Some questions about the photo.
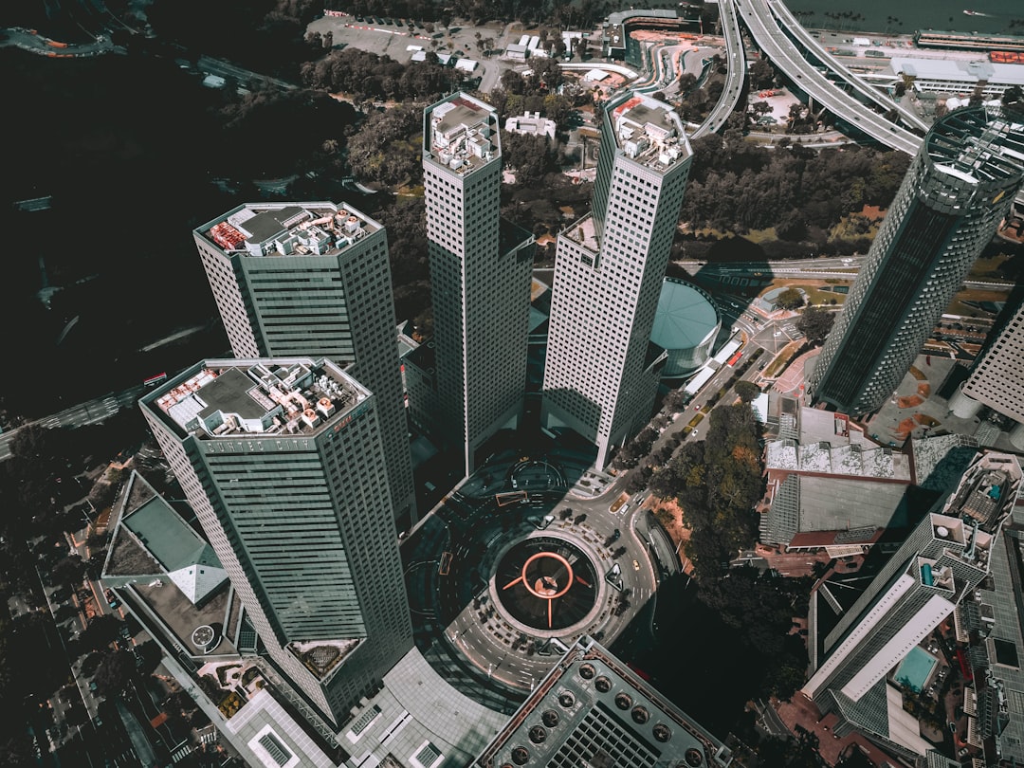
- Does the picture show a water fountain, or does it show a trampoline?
water fountain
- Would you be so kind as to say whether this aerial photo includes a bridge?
Yes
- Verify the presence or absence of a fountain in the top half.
No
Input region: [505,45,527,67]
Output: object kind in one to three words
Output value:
shed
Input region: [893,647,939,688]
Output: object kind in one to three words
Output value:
swimming pool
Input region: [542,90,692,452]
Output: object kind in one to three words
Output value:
building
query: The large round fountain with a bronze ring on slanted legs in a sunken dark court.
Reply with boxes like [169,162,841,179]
[488,527,607,638]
